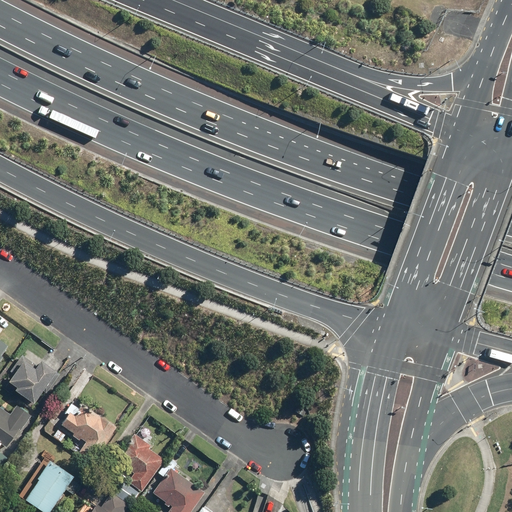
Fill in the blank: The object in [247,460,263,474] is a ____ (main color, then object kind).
red vehicle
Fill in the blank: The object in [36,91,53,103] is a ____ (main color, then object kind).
white vehicle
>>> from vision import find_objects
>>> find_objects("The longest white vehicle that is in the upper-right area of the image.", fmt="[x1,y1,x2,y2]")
[390,92,430,116]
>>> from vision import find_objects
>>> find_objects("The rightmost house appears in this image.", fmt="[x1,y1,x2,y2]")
[154,469,204,512]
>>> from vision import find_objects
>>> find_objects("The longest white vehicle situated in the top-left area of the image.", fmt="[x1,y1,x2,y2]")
[40,104,99,138]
